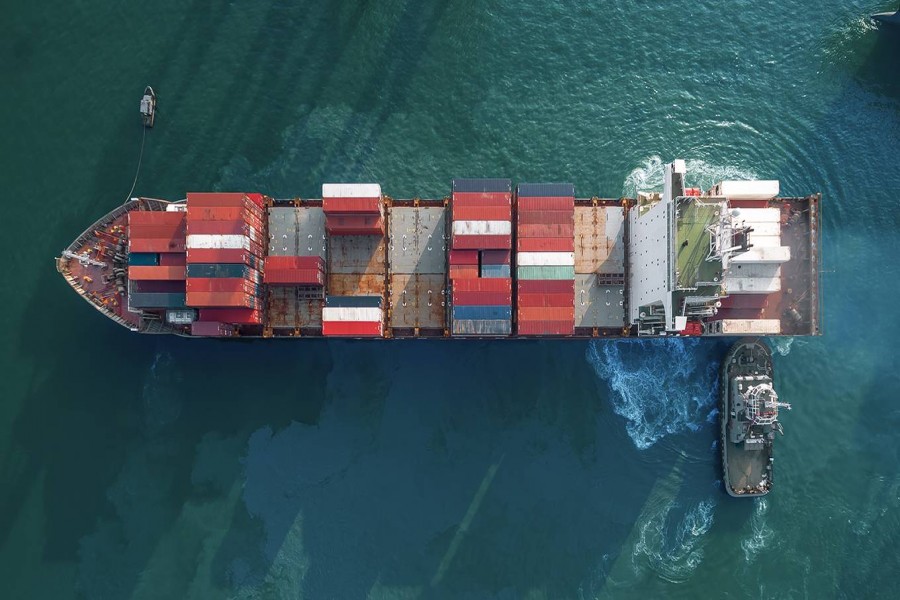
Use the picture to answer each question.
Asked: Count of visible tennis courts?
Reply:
zero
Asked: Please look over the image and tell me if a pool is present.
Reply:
No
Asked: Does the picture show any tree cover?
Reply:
No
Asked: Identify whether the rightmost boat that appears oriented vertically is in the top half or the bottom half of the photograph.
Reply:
bottom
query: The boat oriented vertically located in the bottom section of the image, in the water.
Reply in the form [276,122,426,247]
[721,338,793,499]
